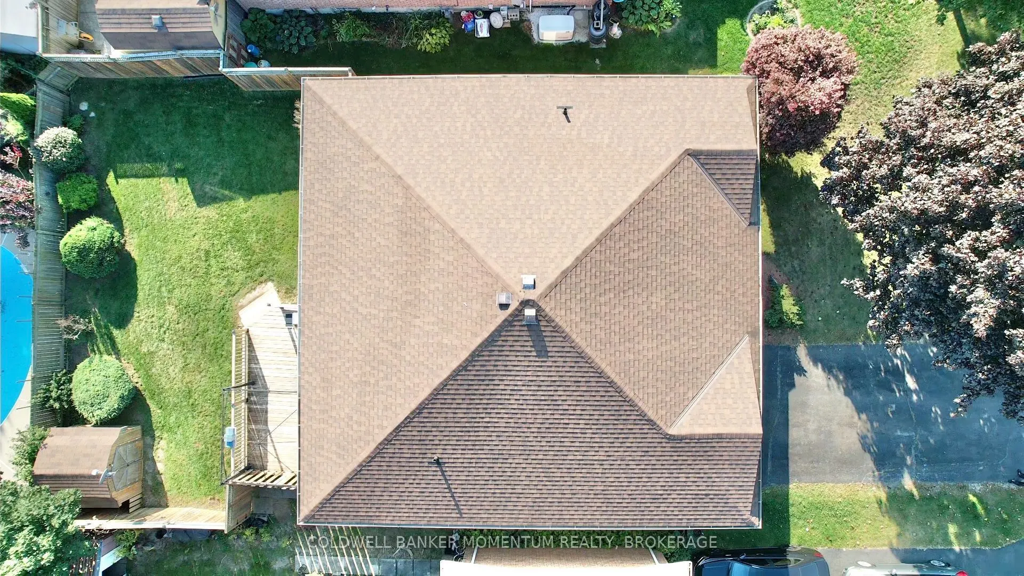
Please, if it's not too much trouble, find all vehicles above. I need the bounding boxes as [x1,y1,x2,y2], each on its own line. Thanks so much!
[694,544,835,576]
[836,560,979,576]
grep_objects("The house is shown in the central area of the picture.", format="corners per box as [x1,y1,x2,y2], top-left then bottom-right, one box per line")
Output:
[298,75,762,528]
